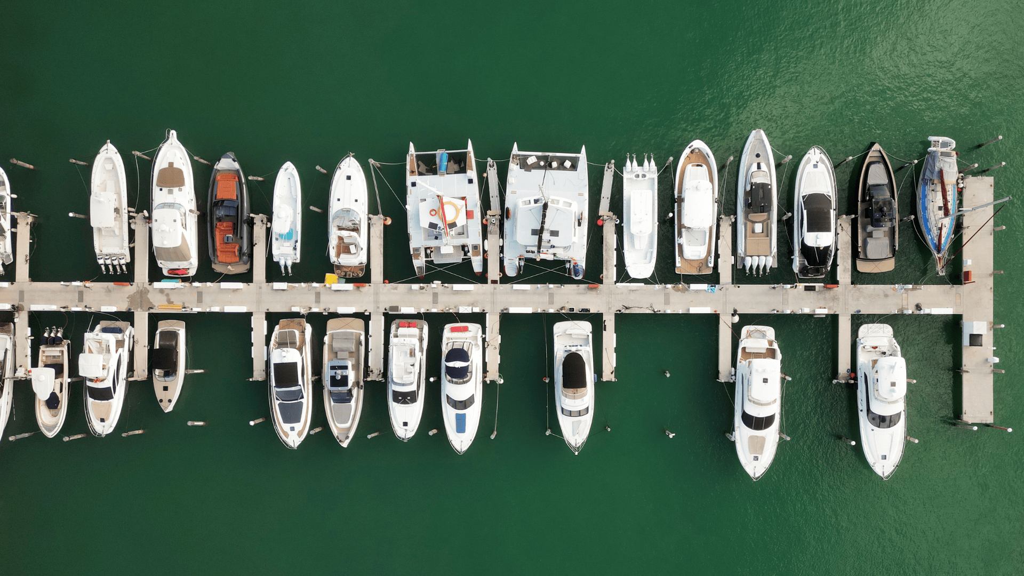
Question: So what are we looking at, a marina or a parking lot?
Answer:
marina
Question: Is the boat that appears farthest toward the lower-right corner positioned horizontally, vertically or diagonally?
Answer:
vertically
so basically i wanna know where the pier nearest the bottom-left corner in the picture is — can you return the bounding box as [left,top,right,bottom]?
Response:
[14,311,34,378]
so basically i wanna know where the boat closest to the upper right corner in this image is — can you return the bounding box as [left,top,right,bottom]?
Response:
[928,135,960,152]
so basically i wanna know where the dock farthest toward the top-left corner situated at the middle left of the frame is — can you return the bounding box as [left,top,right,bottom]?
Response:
[14,215,35,283]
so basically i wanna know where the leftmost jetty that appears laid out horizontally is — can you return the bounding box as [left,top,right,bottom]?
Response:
[0,283,963,314]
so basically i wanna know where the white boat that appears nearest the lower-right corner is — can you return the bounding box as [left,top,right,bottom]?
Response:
[854,323,906,480]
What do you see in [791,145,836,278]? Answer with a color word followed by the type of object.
white boat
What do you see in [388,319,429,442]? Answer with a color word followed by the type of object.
white boat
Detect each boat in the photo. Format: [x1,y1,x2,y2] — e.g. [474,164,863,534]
[0,168,17,266]
[270,319,316,450]
[210,151,253,274]
[928,135,960,152]
[406,139,483,279]
[0,322,17,438]
[623,152,658,278]
[324,318,367,448]
[266,160,302,277]
[326,152,369,278]
[674,139,717,274]
[735,325,781,482]
[92,139,131,275]
[737,127,778,277]
[441,323,483,456]
[79,315,139,437]
[388,319,429,442]
[555,321,597,453]
[791,145,836,278]
[152,130,201,277]
[854,323,906,480]
[152,320,189,413]
[31,325,73,438]
[799,270,828,279]
[504,142,588,280]
[432,245,464,263]
[854,142,897,273]
[920,151,1012,275]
